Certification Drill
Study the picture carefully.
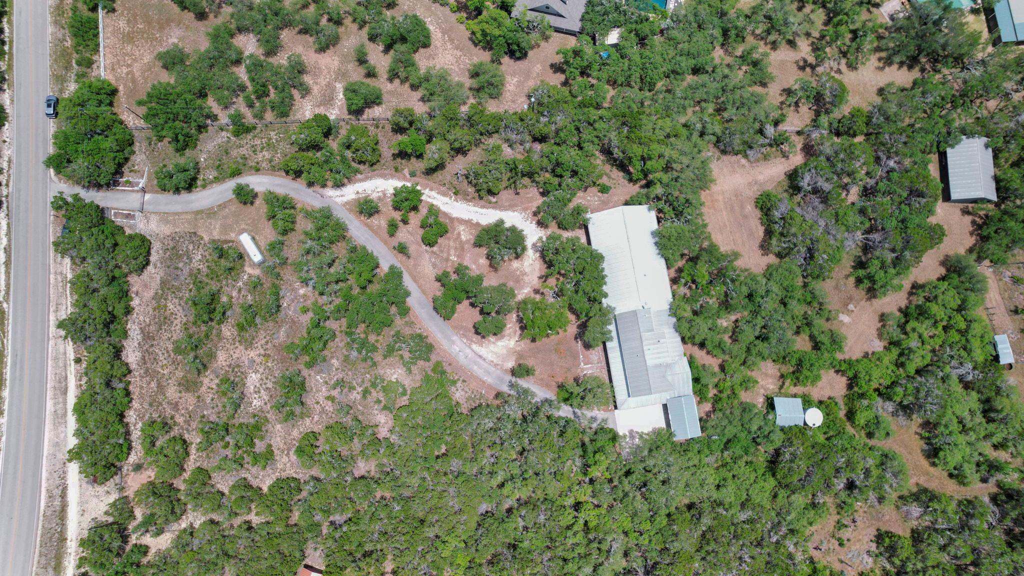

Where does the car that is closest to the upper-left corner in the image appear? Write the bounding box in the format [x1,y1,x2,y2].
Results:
[44,96,59,118]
